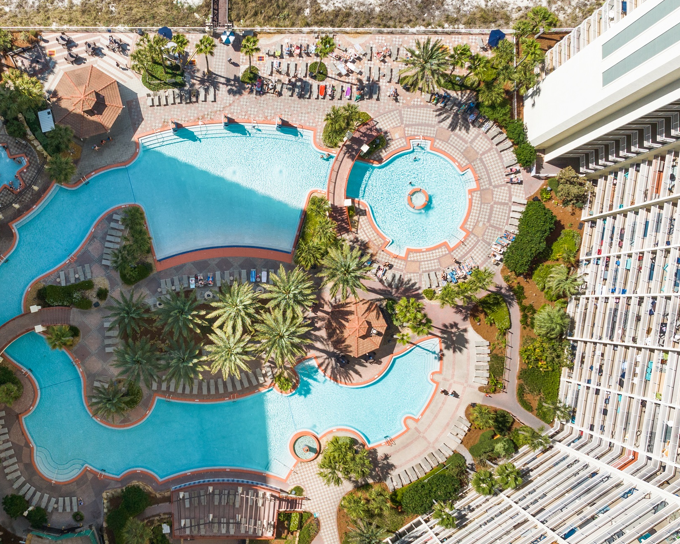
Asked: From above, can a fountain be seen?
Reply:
Yes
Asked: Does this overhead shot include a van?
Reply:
No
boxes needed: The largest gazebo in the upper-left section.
[48,63,124,139]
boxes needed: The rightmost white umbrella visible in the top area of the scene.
[221,31,235,46]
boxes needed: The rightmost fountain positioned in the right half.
[407,187,430,209]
